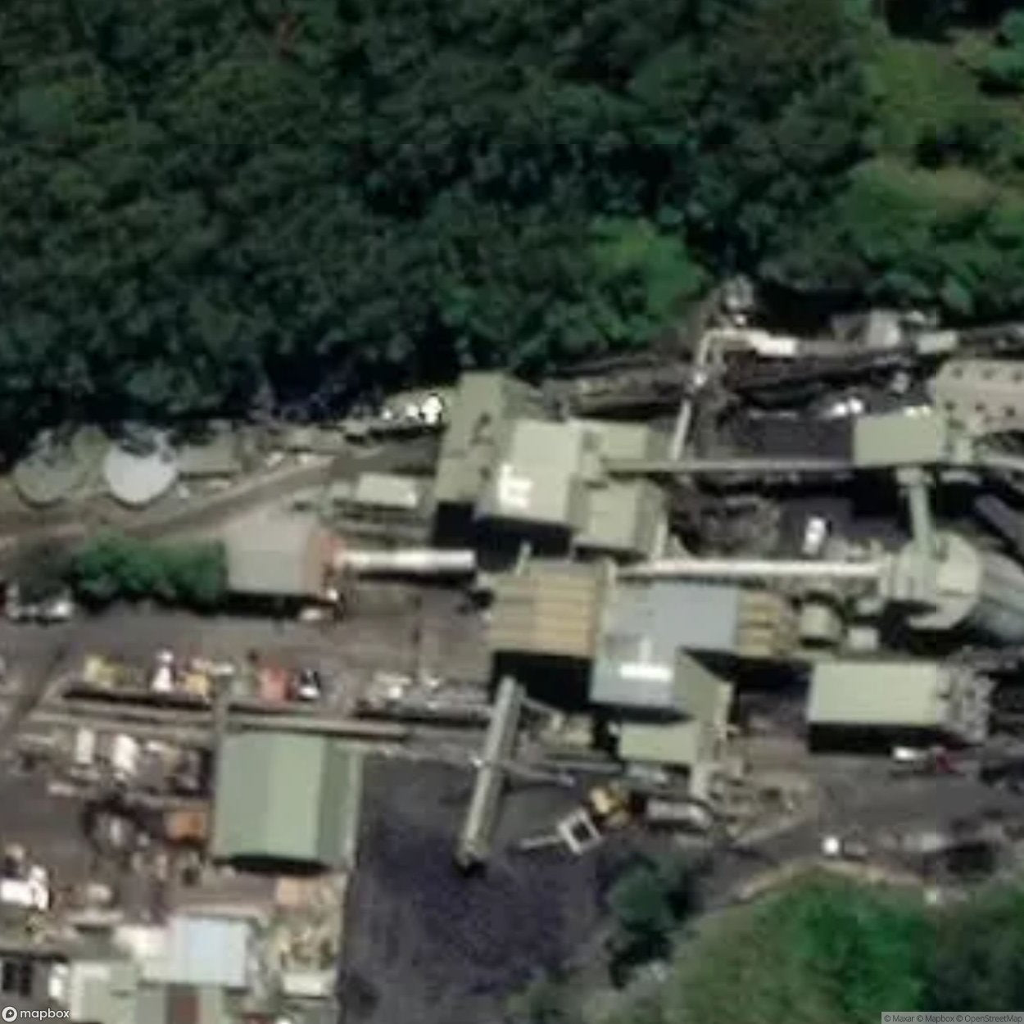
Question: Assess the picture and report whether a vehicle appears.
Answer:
Yes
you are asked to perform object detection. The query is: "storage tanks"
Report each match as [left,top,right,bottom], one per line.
[104,432,182,506]
[13,437,91,512]
[70,426,116,473]
[812,603,850,646]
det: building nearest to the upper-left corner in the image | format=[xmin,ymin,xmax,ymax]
[177,443,245,475]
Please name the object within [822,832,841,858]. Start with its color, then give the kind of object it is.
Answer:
white vehicle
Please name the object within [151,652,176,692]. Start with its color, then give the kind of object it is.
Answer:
white truck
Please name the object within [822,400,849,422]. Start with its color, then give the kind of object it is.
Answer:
white vehicle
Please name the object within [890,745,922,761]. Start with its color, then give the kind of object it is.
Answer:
white car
